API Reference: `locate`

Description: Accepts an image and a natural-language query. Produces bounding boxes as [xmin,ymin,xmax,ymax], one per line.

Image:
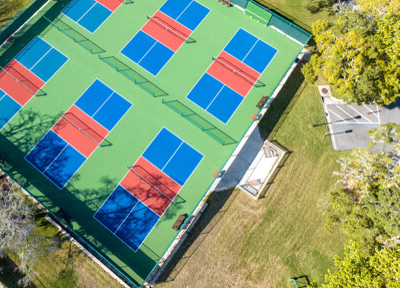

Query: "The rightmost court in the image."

[187,28,278,124]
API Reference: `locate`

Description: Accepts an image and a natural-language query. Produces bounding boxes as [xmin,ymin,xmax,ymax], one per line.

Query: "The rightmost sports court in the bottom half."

[94,127,204,252]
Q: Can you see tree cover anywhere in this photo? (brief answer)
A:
Yes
